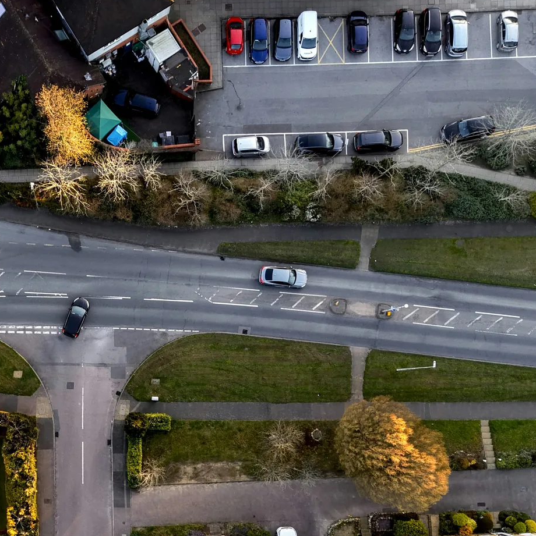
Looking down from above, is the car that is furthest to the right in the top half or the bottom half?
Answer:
top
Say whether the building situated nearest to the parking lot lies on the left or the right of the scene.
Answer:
left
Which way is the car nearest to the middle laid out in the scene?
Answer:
horizontally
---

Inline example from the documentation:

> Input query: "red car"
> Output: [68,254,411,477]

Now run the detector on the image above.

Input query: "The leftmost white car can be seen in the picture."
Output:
[230,134,270,157]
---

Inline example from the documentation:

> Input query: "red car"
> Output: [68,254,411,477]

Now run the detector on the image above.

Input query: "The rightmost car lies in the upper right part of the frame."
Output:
[493,10,520,53]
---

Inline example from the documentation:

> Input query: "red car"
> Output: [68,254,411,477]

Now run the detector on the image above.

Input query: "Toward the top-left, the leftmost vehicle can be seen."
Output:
[111,87,162,120]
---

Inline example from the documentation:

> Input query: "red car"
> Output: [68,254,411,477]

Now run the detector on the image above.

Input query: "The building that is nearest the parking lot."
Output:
[159,47,198,105]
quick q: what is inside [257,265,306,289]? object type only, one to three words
car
